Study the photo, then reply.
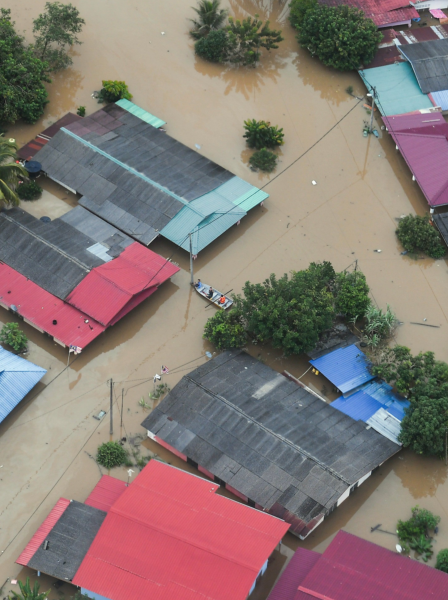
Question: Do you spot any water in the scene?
Yes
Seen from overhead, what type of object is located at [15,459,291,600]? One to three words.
house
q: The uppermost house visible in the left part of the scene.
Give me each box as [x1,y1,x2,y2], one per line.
[17,98,270,263]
